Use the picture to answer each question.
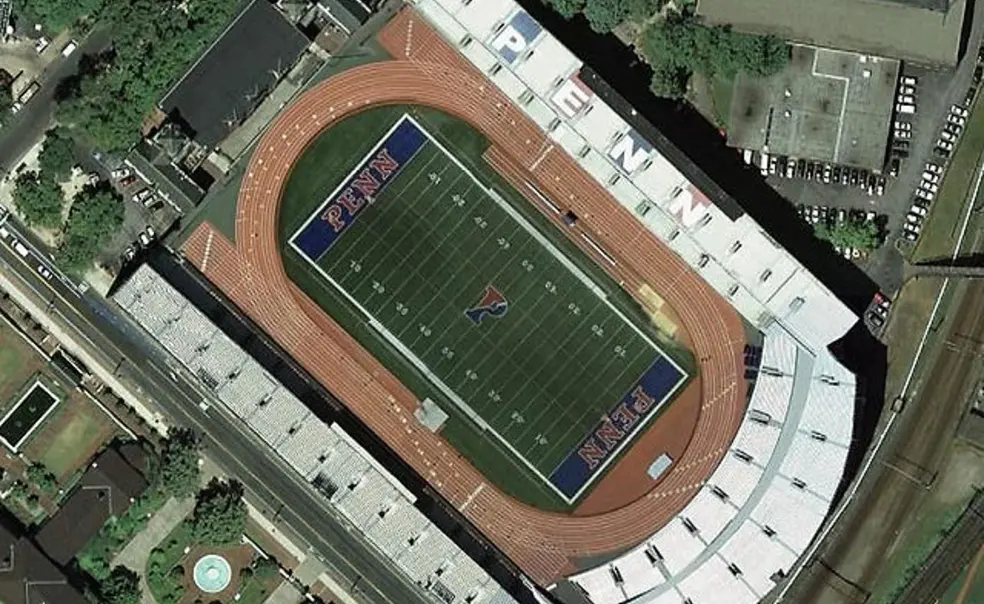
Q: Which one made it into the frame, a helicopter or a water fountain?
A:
water fountain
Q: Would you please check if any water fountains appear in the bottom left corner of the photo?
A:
Yes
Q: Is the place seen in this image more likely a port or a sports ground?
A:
sports ground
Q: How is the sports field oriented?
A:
at an angle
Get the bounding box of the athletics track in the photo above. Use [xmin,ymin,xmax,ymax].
[178,5,745,589]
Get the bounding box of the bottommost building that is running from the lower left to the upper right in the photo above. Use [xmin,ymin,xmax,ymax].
[32,436,156,567]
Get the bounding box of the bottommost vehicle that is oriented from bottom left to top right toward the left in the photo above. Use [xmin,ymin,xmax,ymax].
[122,244,135,260]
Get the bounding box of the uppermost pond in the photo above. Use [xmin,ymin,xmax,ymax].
[0,379,61,450]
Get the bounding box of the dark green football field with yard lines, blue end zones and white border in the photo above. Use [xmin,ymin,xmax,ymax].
[280,105,688,503]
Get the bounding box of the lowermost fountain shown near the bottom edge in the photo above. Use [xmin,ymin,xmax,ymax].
[193,554,232,592]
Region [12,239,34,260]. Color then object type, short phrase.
white vehicle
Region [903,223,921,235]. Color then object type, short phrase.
white vehicle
